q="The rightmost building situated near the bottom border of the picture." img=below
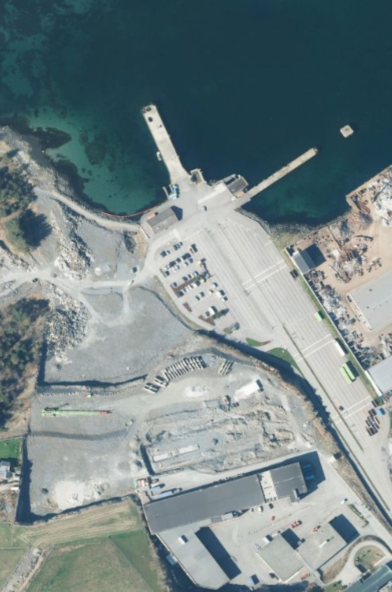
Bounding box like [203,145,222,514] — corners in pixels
[347,567,392,592]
